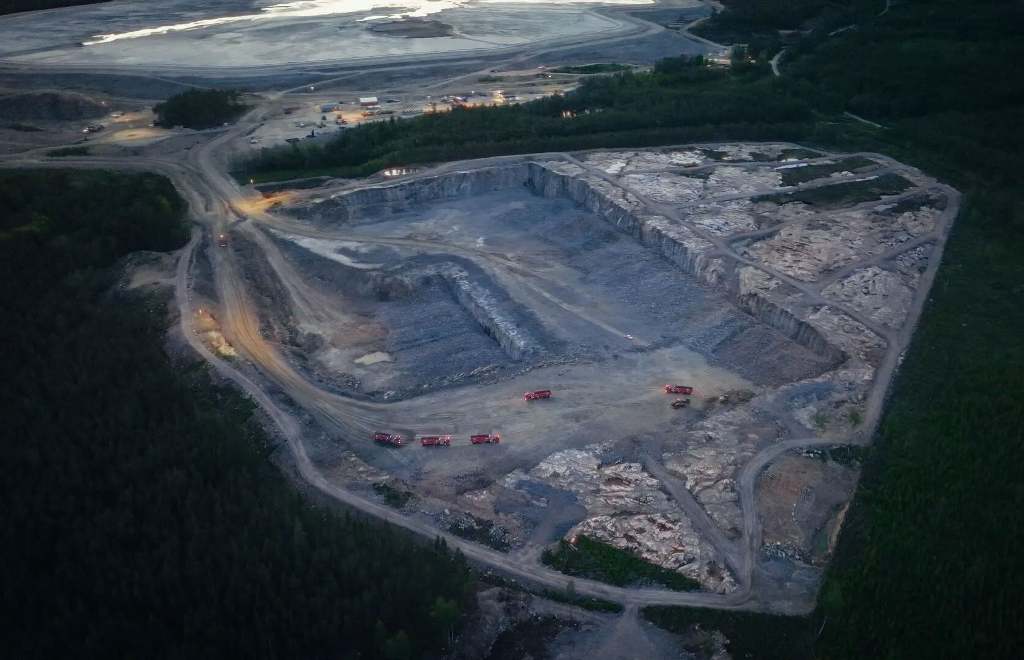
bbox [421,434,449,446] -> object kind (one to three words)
vehicle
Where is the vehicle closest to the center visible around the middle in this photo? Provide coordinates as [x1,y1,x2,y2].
[526,389,551,401]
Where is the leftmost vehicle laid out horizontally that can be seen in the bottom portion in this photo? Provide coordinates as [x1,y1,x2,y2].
[372,431,400,445]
